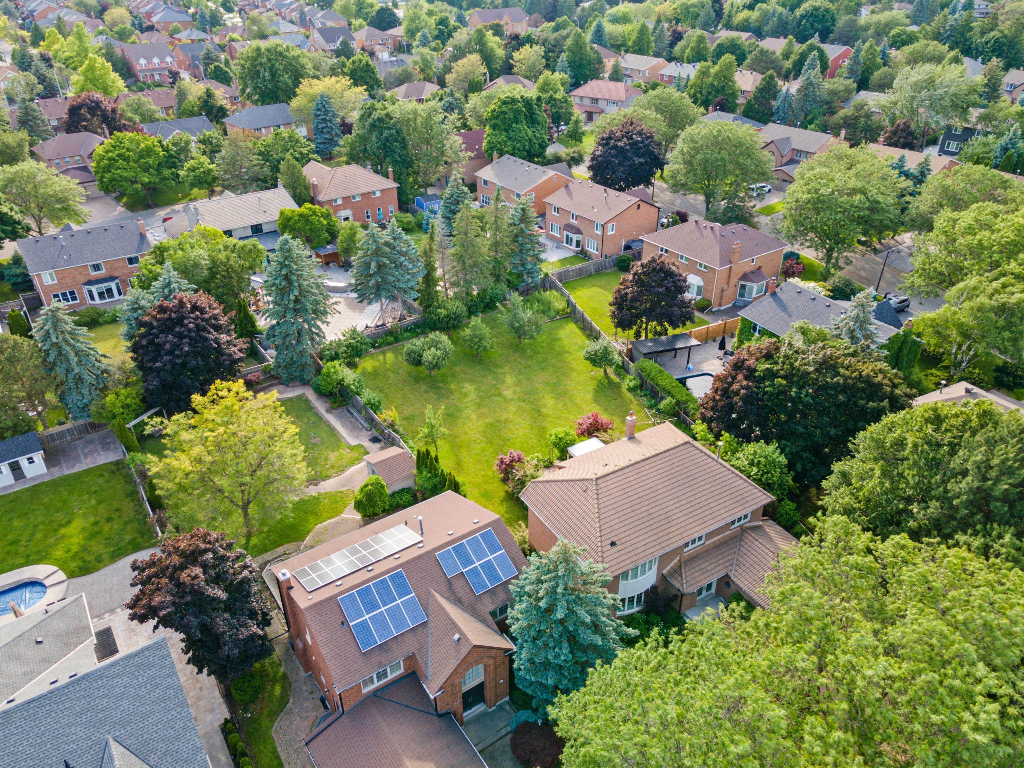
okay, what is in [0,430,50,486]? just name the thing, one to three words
shed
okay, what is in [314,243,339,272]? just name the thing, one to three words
building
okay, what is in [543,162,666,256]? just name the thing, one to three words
house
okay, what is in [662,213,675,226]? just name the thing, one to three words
vehicle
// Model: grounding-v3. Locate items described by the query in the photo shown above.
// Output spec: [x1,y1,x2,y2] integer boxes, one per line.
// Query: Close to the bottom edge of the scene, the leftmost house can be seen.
[0,593,214,768]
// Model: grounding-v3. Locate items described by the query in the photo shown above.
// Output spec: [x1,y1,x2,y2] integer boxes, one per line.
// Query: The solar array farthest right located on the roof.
[436,526,516,591]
